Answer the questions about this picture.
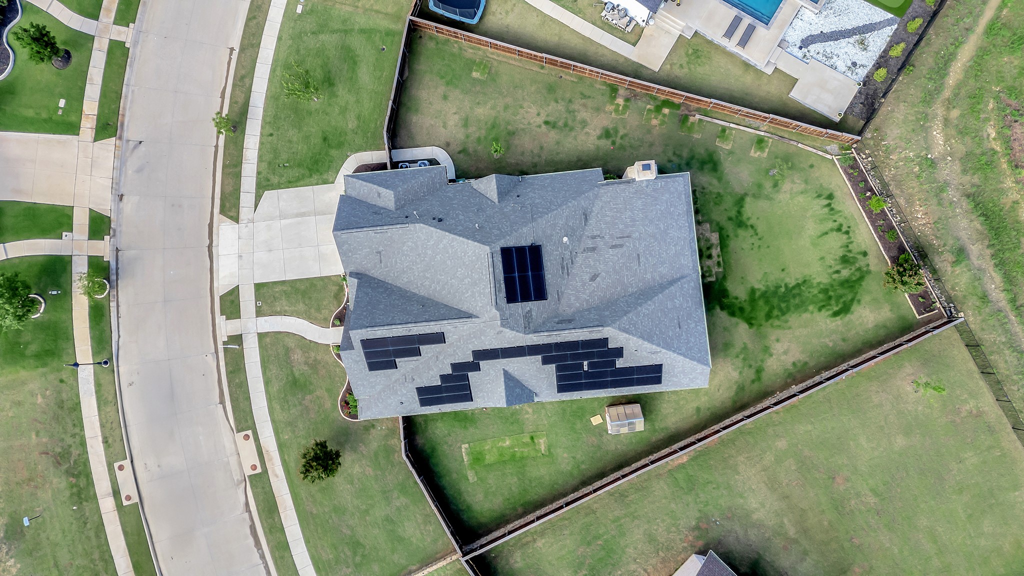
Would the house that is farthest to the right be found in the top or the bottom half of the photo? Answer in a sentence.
It is in the bottom half that the house that is farthest to the right appears.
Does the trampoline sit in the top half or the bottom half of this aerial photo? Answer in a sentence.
The trampoline is in the top half of the image.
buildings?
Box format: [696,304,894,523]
[605,401,644,434]
[333,160,712,421]
[663,543,738,576]
[610,0,666,24]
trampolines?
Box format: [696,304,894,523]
[428,0,486,24]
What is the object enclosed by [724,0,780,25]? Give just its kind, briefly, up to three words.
swimming pool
